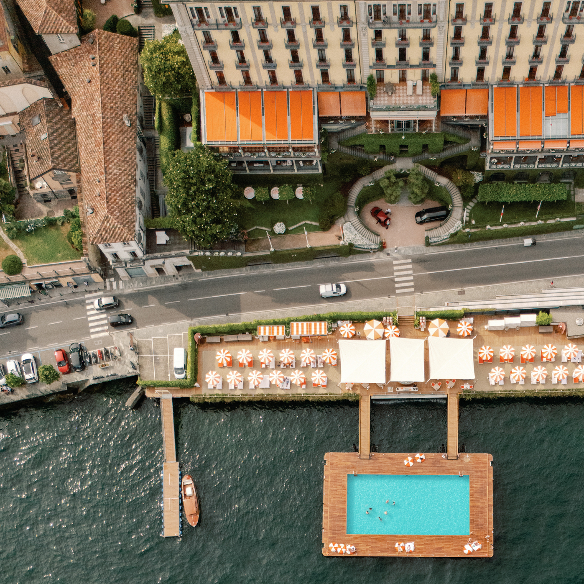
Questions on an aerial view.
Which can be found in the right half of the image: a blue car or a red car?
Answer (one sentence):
What appears in the right half of the image is a red car.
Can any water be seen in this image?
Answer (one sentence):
Yes, some water is visible.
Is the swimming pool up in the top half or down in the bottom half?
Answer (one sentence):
The swimming pool is in the bottom half of the image.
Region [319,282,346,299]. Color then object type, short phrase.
white vehicle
